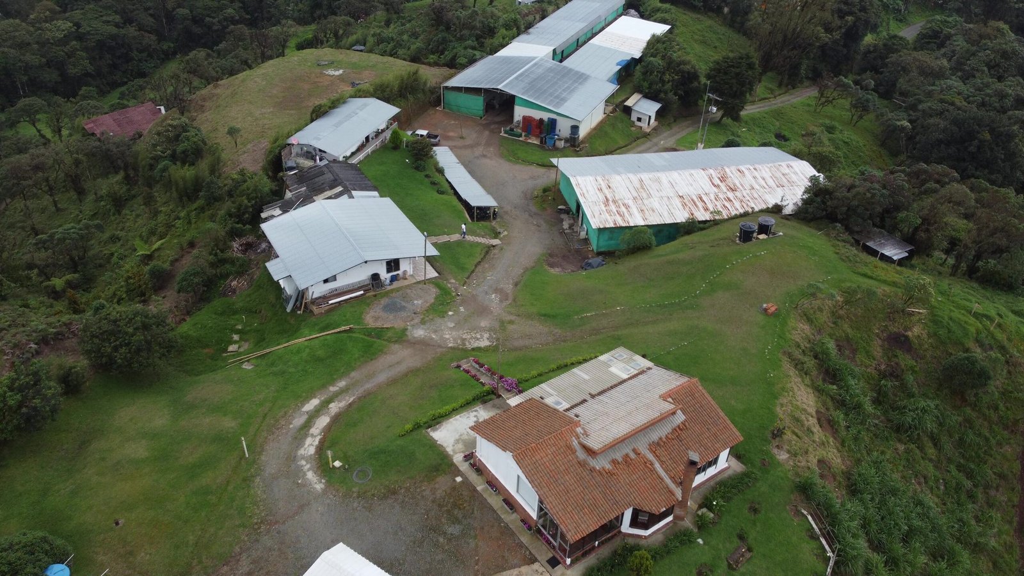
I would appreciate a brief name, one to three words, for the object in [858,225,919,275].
shed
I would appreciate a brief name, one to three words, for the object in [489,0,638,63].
building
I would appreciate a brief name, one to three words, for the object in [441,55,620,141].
barn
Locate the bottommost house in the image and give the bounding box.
[468,347,744,568]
